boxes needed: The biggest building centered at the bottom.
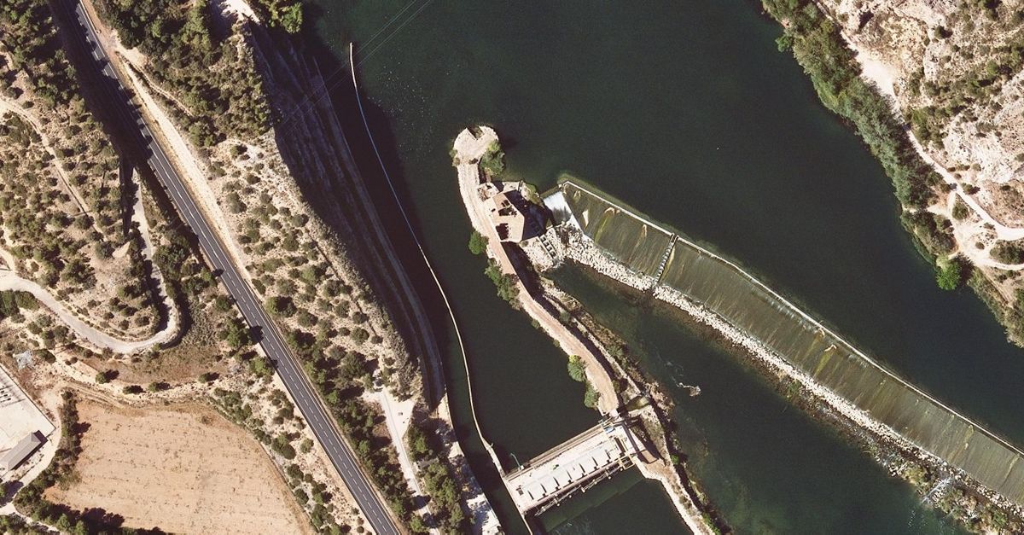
[508,412,648,516]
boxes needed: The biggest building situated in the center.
[484,193,547,243]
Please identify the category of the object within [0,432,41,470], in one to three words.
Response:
shed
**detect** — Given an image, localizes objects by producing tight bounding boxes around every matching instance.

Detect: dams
[557,181,1024,512]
